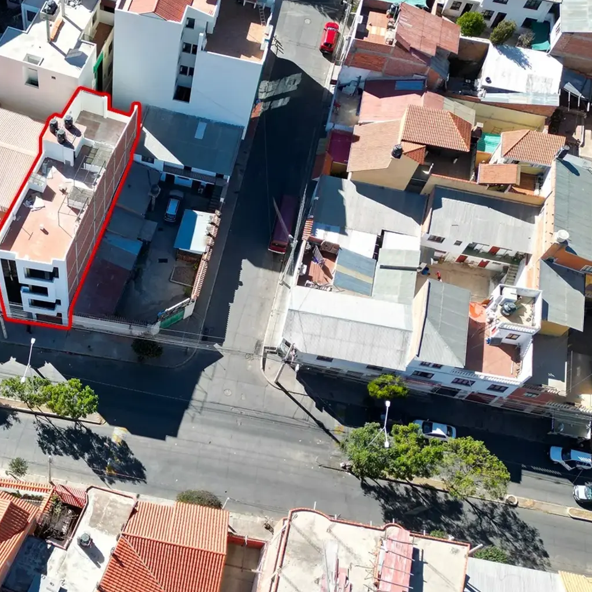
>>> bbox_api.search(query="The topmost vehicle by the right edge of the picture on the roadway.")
[548,446,592,475]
